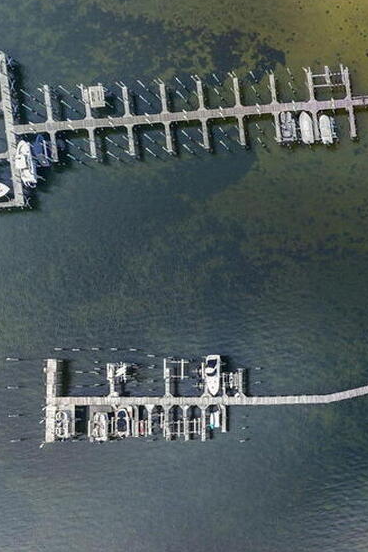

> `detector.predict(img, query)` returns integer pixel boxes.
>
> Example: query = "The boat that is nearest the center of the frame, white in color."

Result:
[206,355,220,395]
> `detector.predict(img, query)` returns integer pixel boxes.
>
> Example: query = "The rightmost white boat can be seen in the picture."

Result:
[321,114,335,148]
